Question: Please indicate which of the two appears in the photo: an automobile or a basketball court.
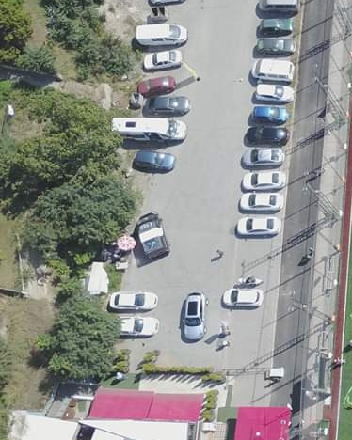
automobile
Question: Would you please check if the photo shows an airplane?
No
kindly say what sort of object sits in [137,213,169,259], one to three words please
truck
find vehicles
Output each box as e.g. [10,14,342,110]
[131,24,188,48]
[179,294,205,341]
[240,170,286,191]
[137,75,175,97]
[143,51,182,71]
[254,85,295,103]
[131,152,175,172]
[235,215,281,237]
[244,124,289,145]
[255,36,296,56]
[149,0,187,7]
[108,291,158,312]
[221,287,264,308]
[258,0,299,13]
[105,116,190,143]
[111,318,160,339]
[251,60,295,82]
[238,191,284,213]
[137,213,169,259]
[250,106,289,125]
[257,18,292,37]
[143,95,190,117]
[241,147,284,167]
